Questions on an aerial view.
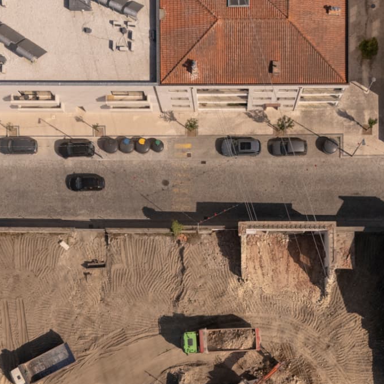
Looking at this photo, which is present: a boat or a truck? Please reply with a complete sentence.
The one in the frame is a truck.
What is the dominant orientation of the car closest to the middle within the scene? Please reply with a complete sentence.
I'd say the car closest to the middle is aligned horizontally in the picture.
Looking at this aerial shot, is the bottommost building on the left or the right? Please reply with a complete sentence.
It is on the right.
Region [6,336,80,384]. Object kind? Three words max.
truck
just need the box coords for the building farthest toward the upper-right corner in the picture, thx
[159,0,349,115]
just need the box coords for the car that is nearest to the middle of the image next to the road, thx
[221,137,263,157]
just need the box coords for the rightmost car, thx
[272,138,307,157]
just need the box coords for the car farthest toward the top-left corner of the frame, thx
[0,137,39,156]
